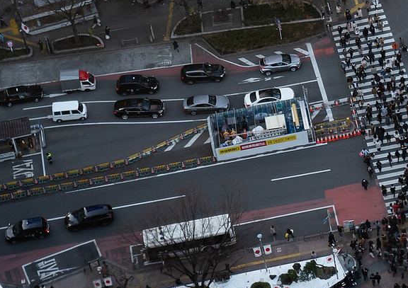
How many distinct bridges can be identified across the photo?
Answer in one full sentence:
The picture shows no bridges.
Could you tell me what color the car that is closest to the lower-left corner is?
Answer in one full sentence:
From above, the car that is closest to the lower-left corner appears black.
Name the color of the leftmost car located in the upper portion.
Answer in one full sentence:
The leftmost car located in the upper portion looks black in the image.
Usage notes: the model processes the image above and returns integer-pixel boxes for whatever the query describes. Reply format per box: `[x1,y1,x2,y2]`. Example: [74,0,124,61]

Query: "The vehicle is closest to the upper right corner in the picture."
[255,50,303,75]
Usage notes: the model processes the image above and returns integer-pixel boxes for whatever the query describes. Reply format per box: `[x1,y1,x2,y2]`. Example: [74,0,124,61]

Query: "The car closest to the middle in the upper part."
[181,91,231,115]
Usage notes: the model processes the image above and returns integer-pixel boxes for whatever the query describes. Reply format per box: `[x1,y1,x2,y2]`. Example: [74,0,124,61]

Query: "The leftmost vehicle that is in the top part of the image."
[0,82,45,106]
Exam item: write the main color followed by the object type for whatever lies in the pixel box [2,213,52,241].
black car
